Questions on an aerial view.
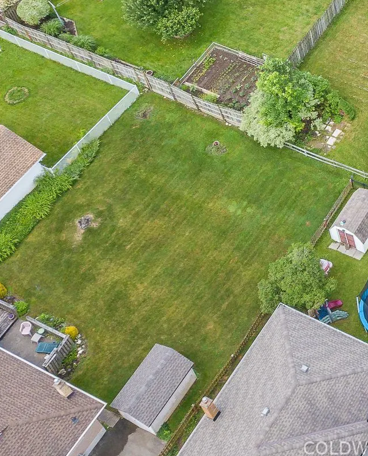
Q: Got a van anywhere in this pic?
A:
No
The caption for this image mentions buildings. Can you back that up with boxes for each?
[0,346,109,456]
[330,187,368,254]
[0,124,49,220]
[110,345,205,442]
[171,304,368,456]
